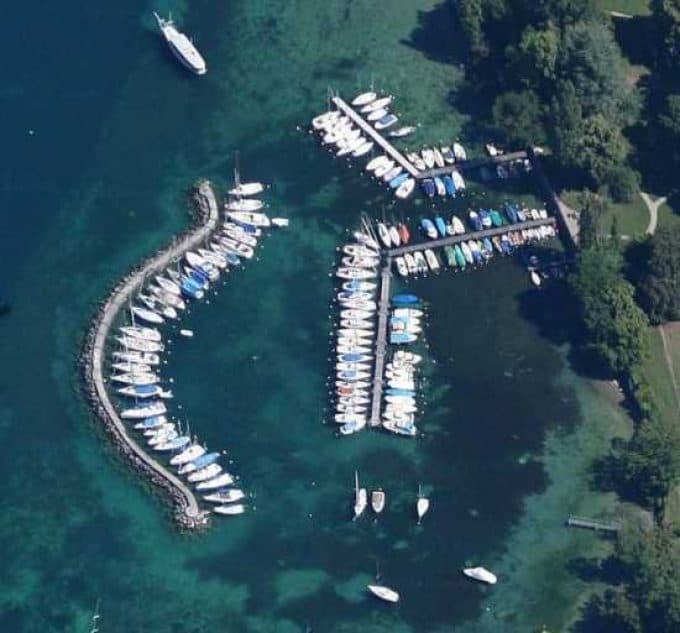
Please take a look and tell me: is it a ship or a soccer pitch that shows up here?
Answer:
ship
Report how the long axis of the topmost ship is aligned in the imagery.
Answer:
on a diagonal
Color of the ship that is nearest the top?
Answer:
white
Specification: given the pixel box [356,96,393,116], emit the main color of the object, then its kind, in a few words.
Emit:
white boat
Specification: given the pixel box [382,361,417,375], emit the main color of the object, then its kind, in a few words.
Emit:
white boat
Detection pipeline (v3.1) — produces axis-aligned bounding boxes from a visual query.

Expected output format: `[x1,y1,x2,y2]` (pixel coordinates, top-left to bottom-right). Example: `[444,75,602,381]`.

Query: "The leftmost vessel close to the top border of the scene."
[153,13,211,79]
